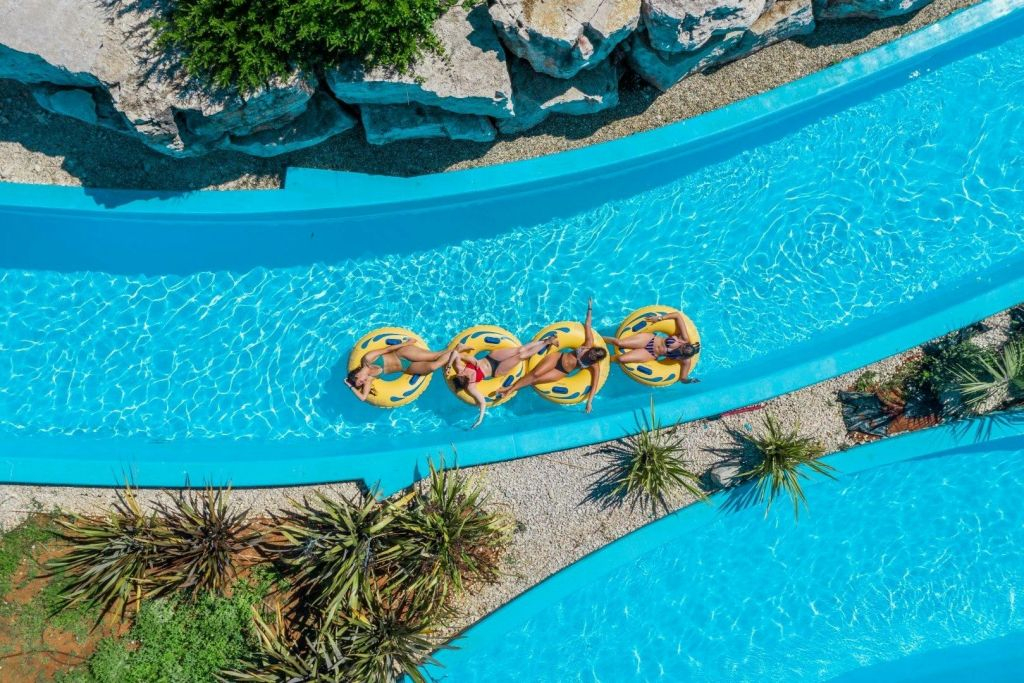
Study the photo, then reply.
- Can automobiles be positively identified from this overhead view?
No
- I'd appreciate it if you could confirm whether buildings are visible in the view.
No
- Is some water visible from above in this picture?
Yes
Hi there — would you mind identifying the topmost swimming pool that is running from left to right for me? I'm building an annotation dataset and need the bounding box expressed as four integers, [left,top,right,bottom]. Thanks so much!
[0,9,1024,462]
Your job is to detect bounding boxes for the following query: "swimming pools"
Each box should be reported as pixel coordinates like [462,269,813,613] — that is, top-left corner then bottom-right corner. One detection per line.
[0,9,1024,462]
[454,435,1024,683]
